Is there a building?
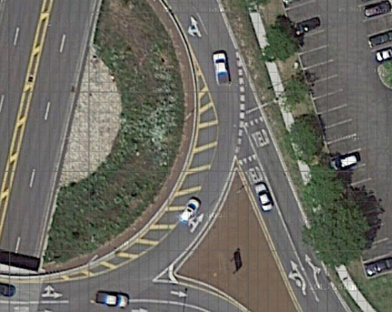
No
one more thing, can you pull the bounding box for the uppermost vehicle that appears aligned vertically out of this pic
[214,50,229,84]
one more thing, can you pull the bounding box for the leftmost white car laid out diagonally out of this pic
[181,195,202,223]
